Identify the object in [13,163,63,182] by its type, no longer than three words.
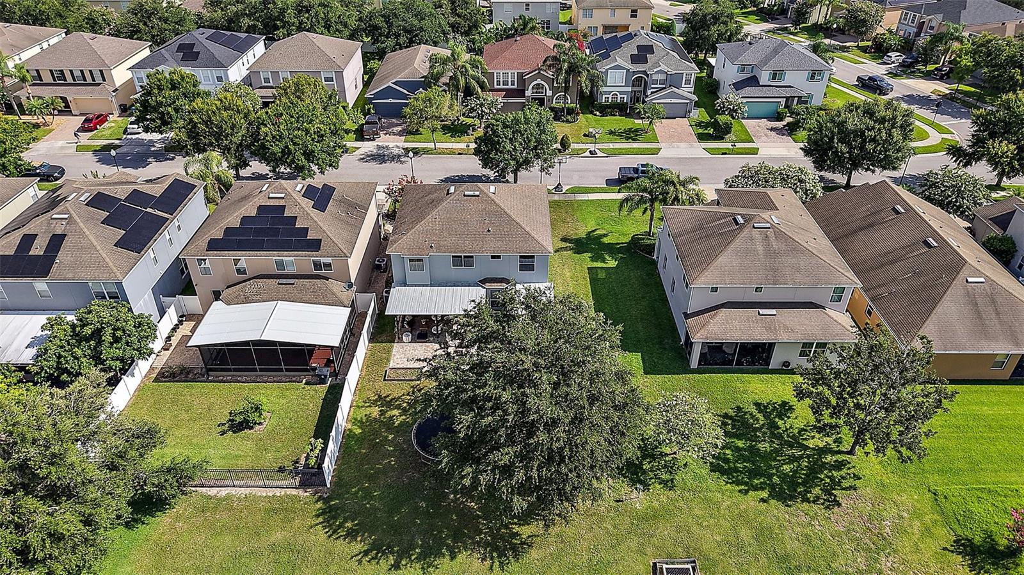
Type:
car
